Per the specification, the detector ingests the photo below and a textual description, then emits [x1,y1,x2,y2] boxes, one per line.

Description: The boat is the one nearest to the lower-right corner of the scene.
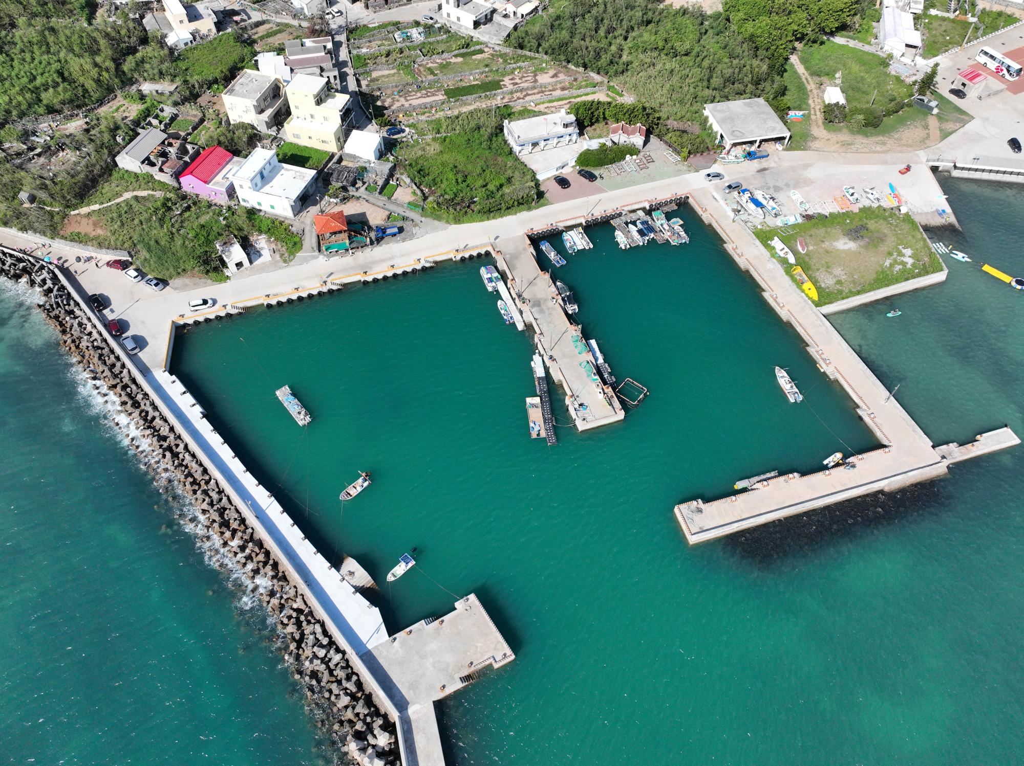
[819,449,845,469]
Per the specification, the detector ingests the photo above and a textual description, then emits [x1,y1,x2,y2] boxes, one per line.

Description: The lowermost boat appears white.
[387,548,415,580]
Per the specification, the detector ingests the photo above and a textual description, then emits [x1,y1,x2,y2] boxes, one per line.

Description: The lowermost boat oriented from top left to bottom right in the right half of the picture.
[778,364,804,403]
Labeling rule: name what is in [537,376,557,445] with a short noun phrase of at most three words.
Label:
pier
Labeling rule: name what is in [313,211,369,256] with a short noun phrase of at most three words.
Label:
building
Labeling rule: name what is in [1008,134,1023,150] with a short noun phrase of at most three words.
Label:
car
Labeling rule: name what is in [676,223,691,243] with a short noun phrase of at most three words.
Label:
boat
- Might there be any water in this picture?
Yes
